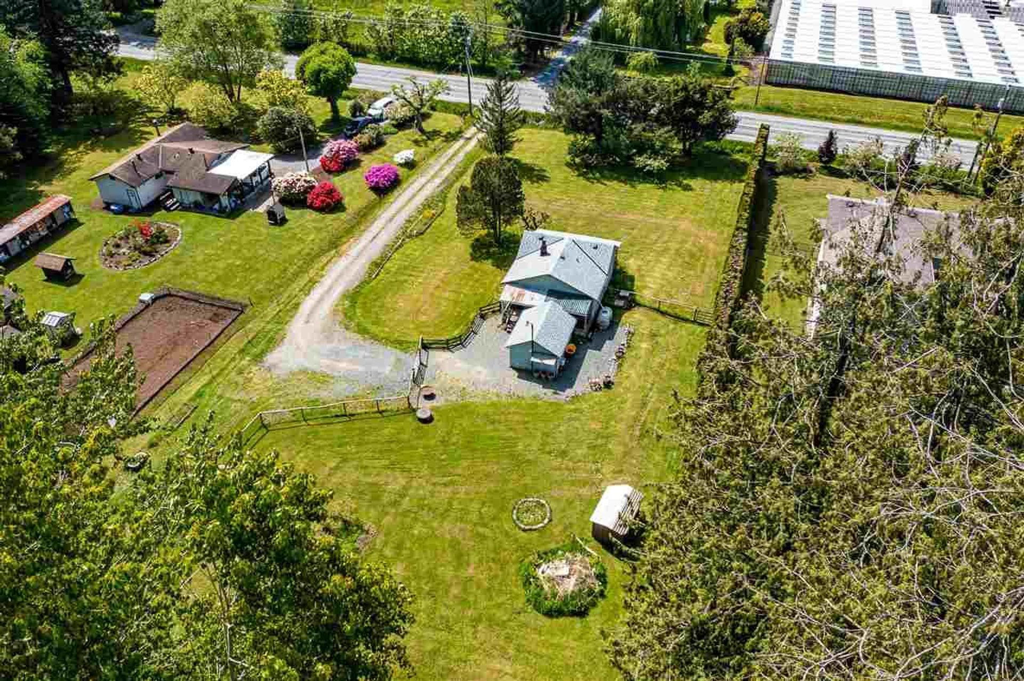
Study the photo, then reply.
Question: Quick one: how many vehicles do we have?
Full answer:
My tally gives 2 vehicles in this view.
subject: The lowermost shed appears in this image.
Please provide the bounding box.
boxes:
[589,485,646,550]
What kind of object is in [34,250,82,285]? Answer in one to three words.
shed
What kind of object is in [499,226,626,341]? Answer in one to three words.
house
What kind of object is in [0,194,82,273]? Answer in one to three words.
shed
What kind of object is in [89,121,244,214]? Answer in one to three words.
house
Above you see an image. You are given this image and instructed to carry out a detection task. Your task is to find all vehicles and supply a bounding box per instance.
[366,90,400,116]
[343,113,378,135]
